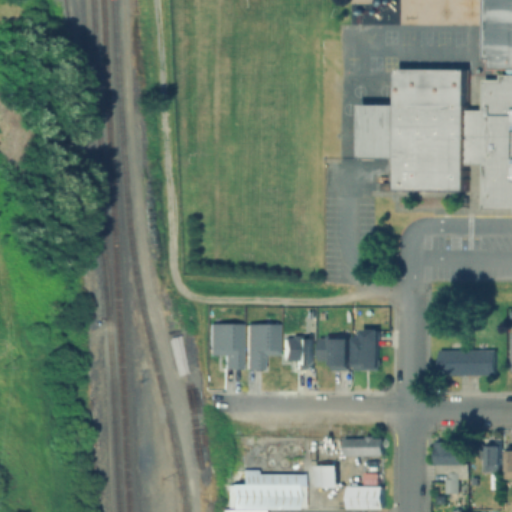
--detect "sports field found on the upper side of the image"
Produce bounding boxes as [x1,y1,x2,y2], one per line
[175,0,342,281]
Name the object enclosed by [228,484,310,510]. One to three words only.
building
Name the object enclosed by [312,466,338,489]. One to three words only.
building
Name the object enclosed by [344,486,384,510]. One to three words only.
barn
